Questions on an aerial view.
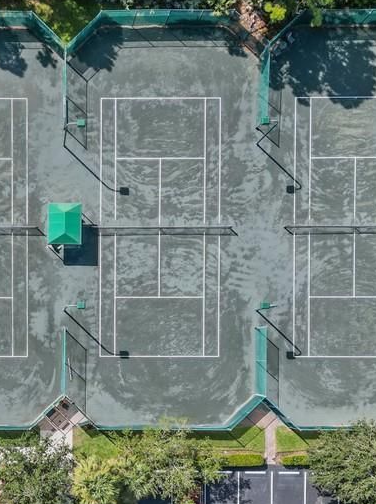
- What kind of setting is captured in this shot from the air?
sports ground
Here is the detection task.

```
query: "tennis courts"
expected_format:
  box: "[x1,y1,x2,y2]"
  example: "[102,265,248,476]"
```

[0,27,65,425]
[256,27,376,426]
[64,27,257,426]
